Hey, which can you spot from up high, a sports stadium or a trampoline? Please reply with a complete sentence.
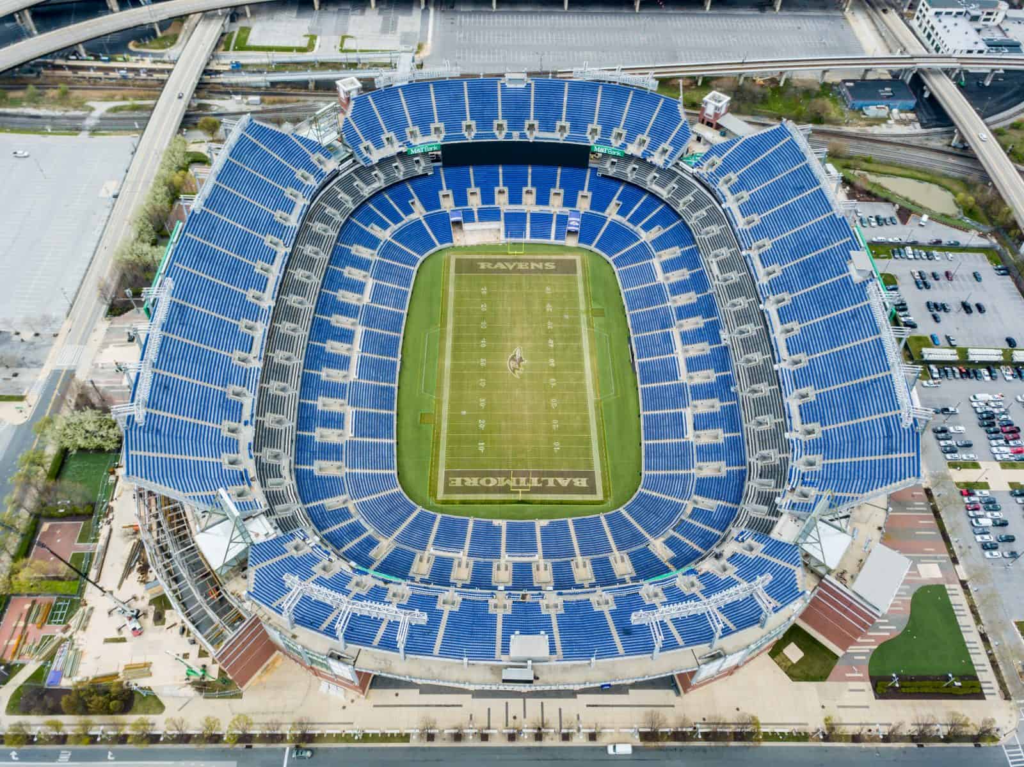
Of the two, only a sports stadium appears.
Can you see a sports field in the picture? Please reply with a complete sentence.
Yes, I can see a sports field in this picture.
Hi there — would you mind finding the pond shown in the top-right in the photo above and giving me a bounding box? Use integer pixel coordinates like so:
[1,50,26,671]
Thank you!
[857,169,959,215]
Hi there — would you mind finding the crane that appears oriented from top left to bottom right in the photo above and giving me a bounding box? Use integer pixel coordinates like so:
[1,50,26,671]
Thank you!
[34,539,156,638]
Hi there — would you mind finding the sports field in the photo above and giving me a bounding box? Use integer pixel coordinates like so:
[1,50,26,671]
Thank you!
[395,241,643,519]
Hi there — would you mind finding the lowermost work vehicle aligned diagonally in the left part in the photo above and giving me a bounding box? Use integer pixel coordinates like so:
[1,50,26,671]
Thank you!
[165,648,210,679]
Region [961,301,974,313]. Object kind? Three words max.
vehicle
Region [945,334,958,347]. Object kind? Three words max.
vehicle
